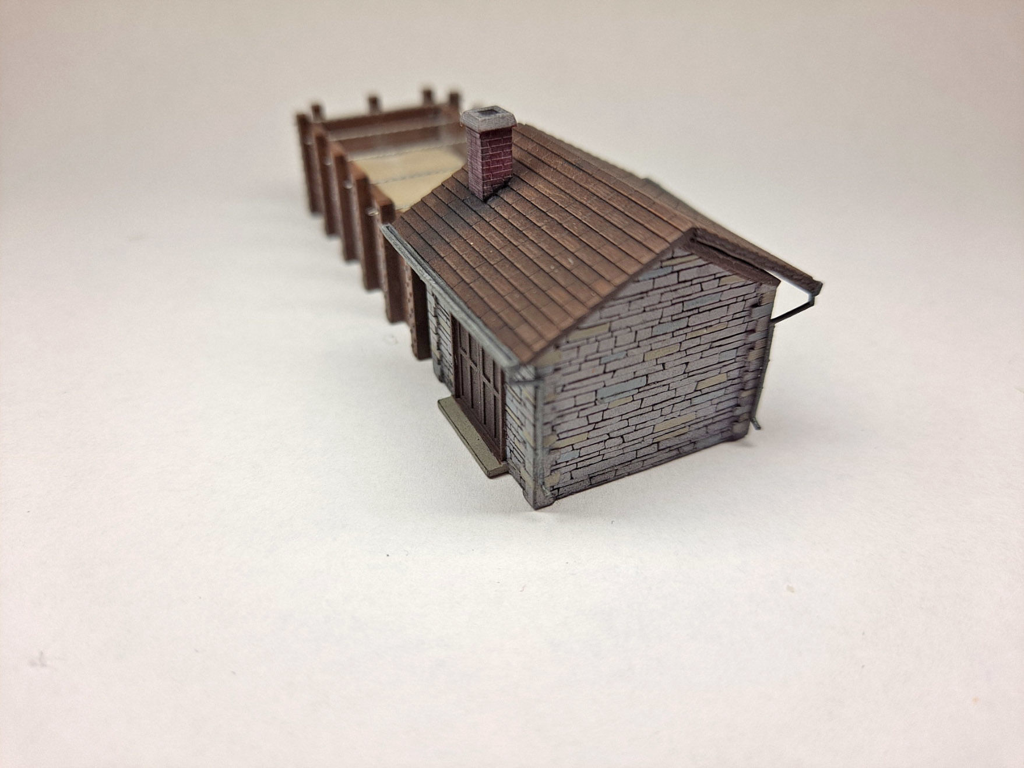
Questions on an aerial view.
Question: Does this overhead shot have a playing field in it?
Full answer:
No, the scene contains no playing field.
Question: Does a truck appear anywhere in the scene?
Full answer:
No, the picture doesn't show any truck.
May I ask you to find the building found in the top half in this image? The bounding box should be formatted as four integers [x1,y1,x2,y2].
[294,89,824,507]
